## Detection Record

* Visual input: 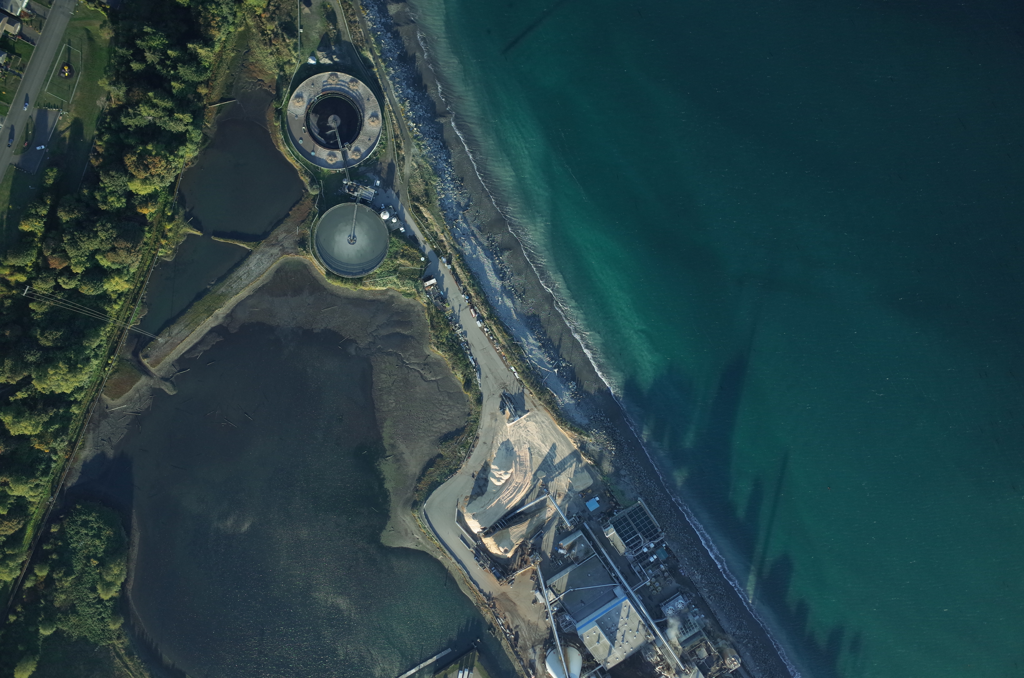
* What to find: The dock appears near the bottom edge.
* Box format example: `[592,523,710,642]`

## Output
[391,645,452,678]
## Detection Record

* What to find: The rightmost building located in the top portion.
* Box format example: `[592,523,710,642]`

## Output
[345,182,376,202]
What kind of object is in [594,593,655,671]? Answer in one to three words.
building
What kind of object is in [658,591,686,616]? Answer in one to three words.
cooling tower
